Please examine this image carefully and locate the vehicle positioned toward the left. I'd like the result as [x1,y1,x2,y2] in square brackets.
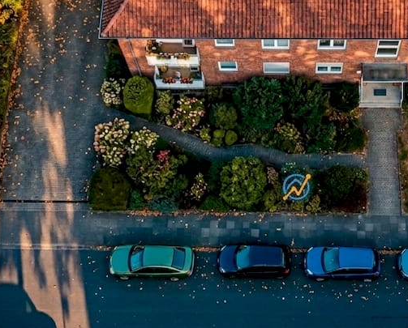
[109,242,194,281]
